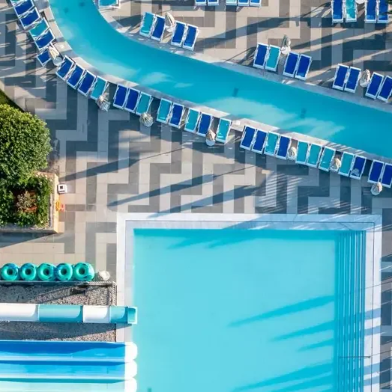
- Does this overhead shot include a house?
No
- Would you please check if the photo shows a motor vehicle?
No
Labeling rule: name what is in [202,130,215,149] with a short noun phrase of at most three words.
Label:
umbrella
